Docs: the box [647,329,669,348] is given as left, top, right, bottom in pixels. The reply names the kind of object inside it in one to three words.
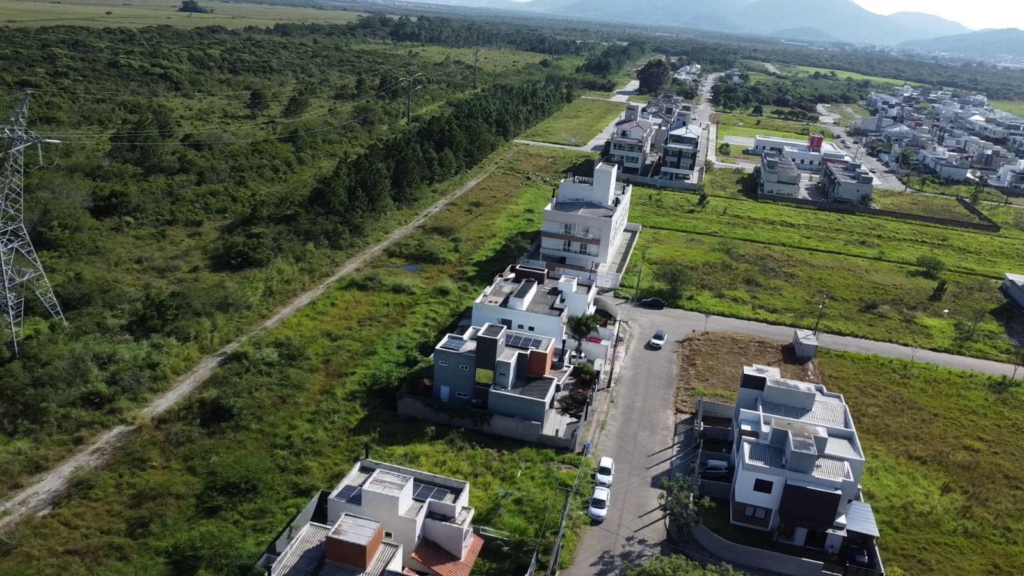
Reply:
car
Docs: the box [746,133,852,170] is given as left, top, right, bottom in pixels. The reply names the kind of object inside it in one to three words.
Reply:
building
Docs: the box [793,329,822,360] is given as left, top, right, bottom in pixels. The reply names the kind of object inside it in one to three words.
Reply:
shed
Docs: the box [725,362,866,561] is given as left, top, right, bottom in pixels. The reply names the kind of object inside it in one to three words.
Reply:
house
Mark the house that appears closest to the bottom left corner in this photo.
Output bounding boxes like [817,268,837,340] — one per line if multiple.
[268,514,405,576]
